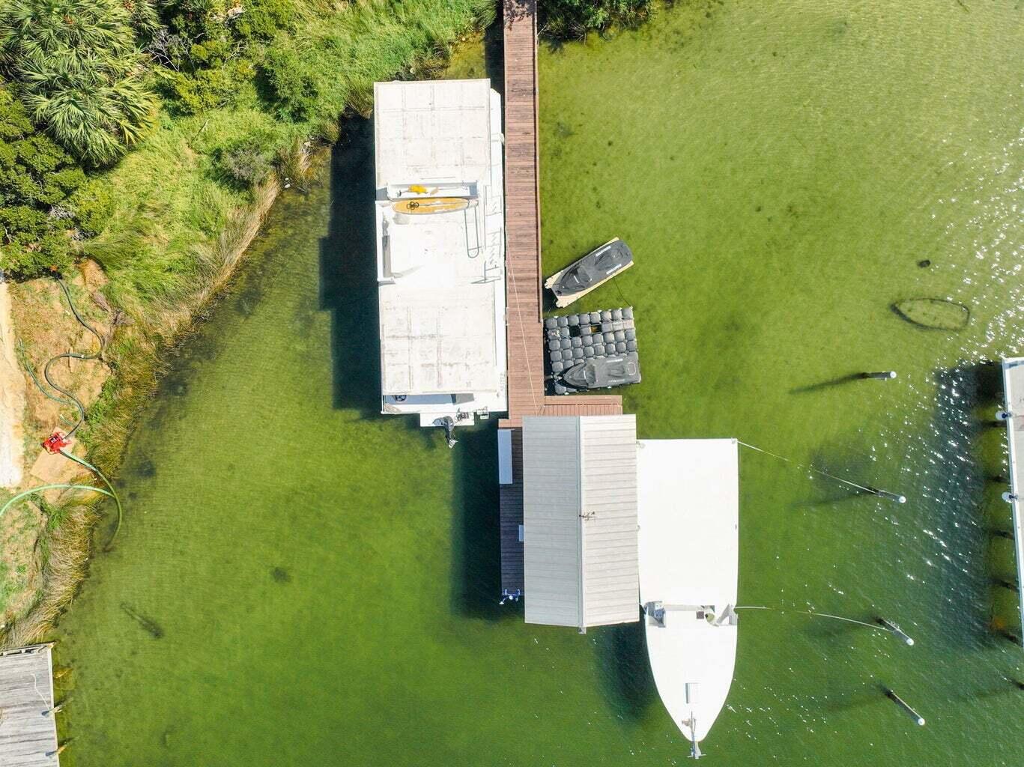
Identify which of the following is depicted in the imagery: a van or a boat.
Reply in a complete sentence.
It is a boat that can be seen here.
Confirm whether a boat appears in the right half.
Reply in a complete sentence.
Yes, a boat appears in the right half.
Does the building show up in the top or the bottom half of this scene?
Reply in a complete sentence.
The bottom half of the photo is where the building is.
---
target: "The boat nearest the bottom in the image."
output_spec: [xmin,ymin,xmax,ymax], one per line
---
[637,439,739,755]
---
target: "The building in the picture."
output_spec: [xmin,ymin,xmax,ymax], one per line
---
[522,414,639,635]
